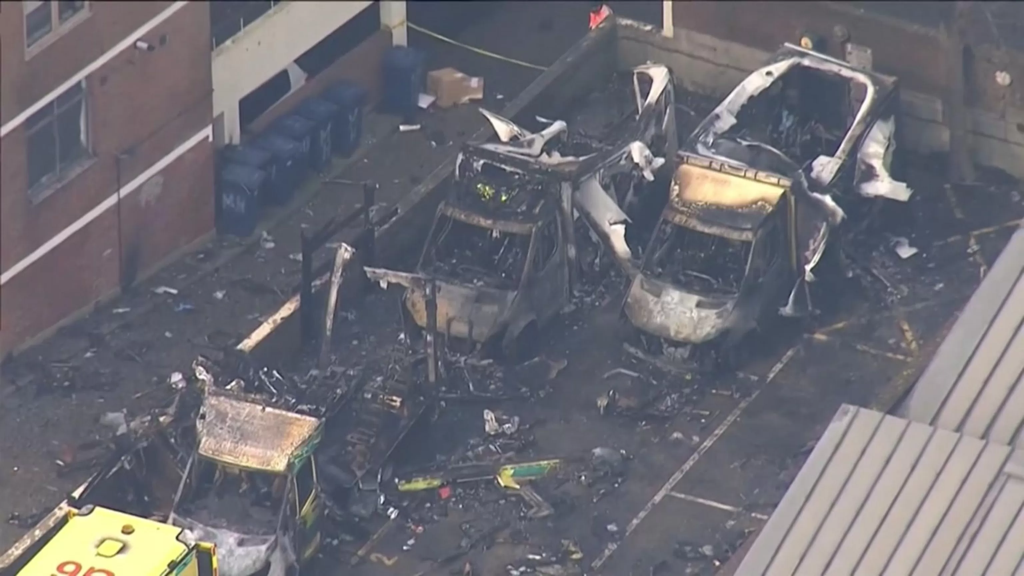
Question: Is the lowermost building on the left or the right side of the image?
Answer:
right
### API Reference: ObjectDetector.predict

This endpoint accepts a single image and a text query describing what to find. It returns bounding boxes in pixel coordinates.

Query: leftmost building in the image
[0,0,217,359]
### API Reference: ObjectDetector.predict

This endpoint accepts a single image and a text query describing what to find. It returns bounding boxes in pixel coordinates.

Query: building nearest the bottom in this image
[734,400,1024,576]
